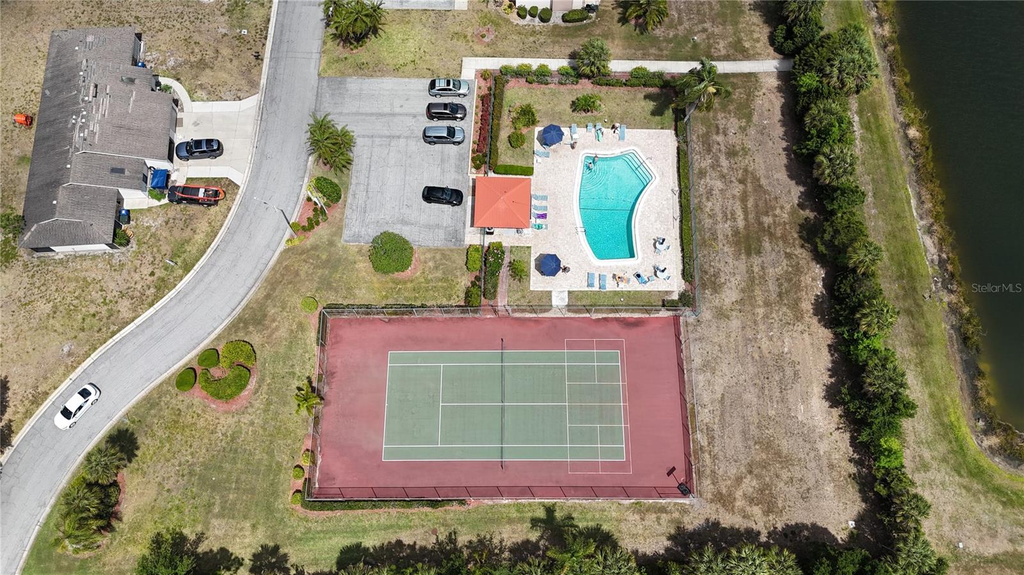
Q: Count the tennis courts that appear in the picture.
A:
1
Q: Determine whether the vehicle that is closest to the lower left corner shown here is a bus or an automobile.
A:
automobile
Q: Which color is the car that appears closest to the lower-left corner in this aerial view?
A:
white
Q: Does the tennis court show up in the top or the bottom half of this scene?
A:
bottom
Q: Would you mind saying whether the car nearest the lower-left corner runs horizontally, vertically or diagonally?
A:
diagonally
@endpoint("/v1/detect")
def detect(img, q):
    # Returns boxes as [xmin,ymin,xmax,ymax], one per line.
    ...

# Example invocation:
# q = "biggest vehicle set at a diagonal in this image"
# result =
[54,383,103,431]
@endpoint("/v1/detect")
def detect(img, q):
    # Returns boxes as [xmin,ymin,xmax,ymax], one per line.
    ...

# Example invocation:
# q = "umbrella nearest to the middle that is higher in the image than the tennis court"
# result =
[537,254,563,278]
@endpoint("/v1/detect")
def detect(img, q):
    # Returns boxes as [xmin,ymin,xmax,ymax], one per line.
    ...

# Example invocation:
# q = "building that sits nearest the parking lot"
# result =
[473,177,531,233]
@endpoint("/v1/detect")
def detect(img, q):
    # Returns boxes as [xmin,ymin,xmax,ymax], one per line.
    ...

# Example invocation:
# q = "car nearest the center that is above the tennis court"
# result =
[421,186,463,208]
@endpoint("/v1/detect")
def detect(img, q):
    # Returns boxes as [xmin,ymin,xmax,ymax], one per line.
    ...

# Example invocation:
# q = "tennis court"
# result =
[313,315,692,499]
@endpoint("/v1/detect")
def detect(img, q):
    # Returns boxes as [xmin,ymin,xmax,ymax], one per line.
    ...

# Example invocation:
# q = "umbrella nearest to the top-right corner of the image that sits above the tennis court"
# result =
[540,125,564,146]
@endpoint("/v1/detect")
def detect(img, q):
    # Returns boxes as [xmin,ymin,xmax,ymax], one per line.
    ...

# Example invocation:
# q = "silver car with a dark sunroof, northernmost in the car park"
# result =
[428,79,468,100]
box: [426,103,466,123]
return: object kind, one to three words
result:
car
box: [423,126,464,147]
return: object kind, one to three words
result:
car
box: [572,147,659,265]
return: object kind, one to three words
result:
swimming pool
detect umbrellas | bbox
[540,125,564,146]
[537,254,563,278]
